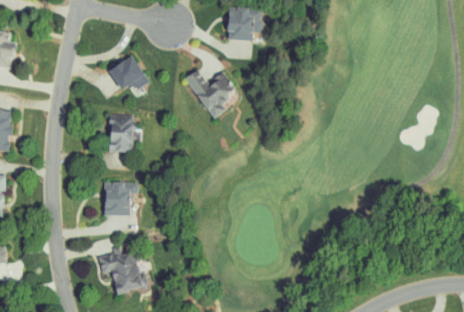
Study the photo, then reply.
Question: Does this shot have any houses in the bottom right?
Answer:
No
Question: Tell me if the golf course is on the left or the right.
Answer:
right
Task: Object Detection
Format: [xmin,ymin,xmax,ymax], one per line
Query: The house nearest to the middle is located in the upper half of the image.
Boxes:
[186,70,240,118]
